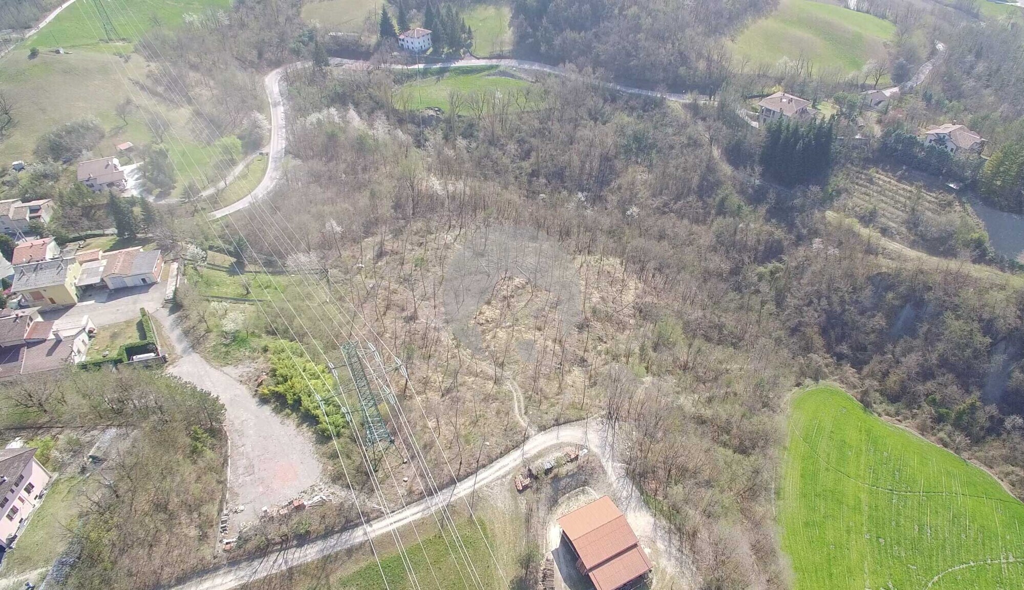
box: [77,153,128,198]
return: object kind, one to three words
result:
house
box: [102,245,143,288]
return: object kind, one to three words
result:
barn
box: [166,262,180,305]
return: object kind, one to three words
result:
shed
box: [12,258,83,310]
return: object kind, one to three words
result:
house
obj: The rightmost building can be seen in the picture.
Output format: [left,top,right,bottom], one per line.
[924,125,989,163]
